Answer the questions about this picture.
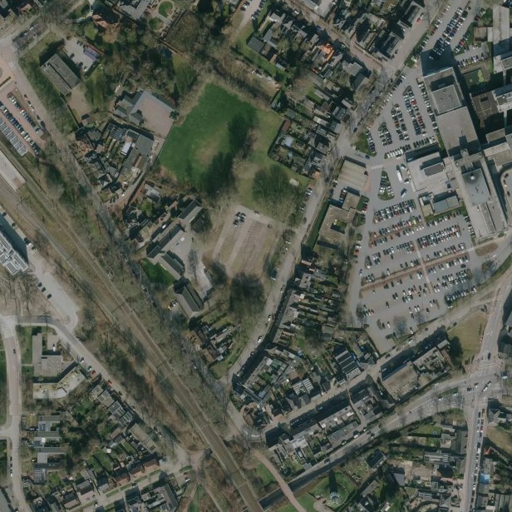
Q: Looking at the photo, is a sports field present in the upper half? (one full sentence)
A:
Yes, the scene does show a sports field in the upper half.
